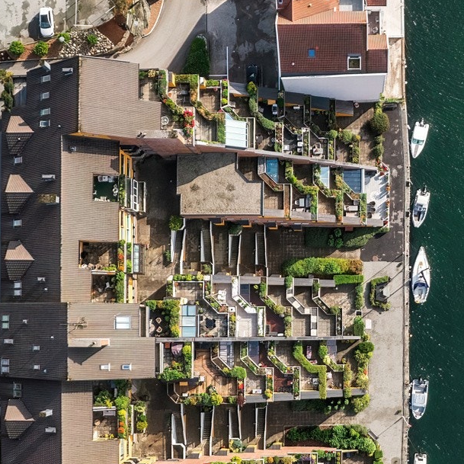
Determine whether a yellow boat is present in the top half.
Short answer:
No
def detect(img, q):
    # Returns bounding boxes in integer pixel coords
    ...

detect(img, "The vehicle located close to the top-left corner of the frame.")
[38,5,56,40]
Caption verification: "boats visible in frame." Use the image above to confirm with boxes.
[410,375,427,420]
[412,245,429,303]
[413,184,431,227]
[413,447,426,464]
[410,117,429,158]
